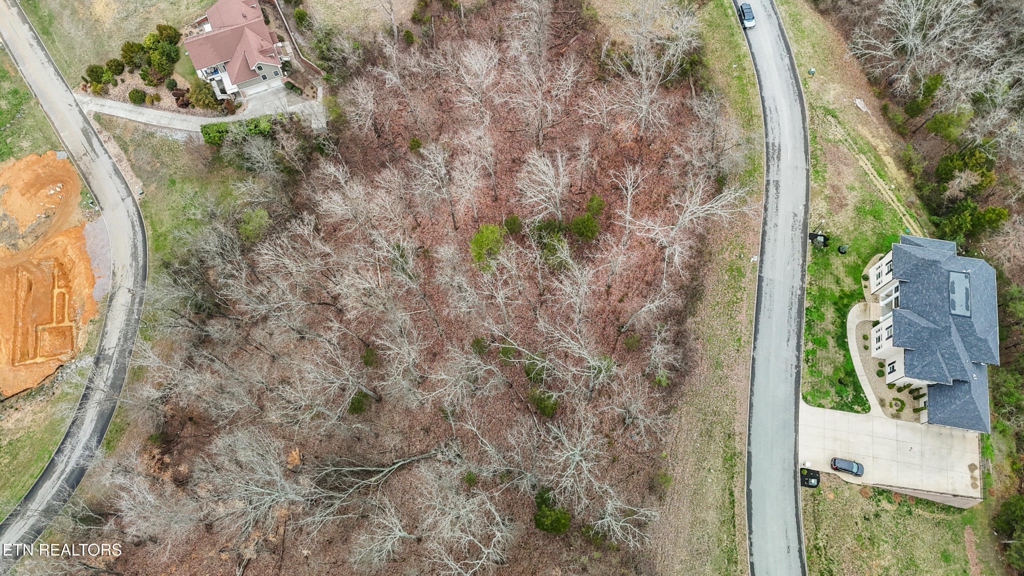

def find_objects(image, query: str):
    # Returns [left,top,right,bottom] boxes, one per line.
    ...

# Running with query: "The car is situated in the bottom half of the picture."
[831,458,866,479]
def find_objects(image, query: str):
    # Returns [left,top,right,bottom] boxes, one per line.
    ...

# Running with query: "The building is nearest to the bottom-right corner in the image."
[868,236,1000,436]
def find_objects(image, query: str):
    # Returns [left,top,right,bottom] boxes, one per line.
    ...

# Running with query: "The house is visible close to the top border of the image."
[184,0,297,102]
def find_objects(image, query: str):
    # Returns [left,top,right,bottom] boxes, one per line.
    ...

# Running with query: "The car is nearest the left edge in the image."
[739,1,758,29]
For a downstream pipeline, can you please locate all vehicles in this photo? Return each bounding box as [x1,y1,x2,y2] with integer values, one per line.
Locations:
[739,1,758,29]
[831,458,866,479]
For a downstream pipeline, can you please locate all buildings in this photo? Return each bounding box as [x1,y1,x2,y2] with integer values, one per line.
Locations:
[868,236,1000,436]
[184,0,297,102]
